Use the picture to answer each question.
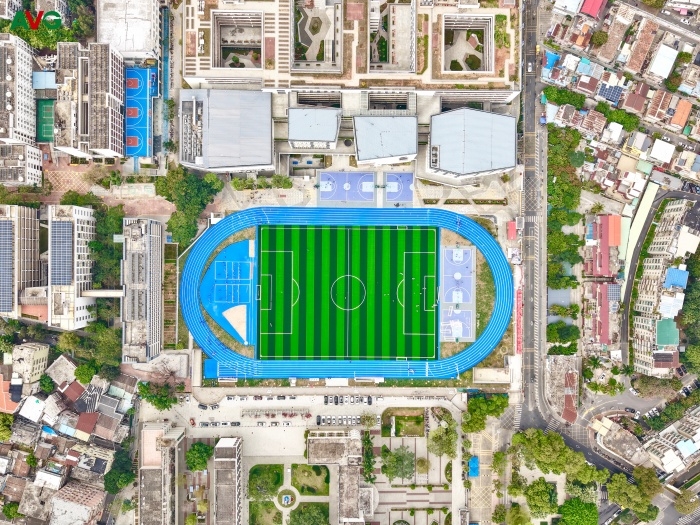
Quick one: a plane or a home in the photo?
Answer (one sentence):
The image shows a home.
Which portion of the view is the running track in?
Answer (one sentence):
The running track is located in the center region of the scene.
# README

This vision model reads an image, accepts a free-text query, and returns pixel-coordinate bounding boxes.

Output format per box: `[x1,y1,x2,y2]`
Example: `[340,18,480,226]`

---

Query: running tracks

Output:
[181,206,513,380]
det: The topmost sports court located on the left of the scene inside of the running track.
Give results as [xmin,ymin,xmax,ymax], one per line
[214,261,250,280]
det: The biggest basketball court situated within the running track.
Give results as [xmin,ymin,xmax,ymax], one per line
[441,245,476,342]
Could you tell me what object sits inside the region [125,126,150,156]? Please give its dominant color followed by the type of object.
blue basketball court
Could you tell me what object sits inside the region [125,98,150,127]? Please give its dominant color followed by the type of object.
blue basketball court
